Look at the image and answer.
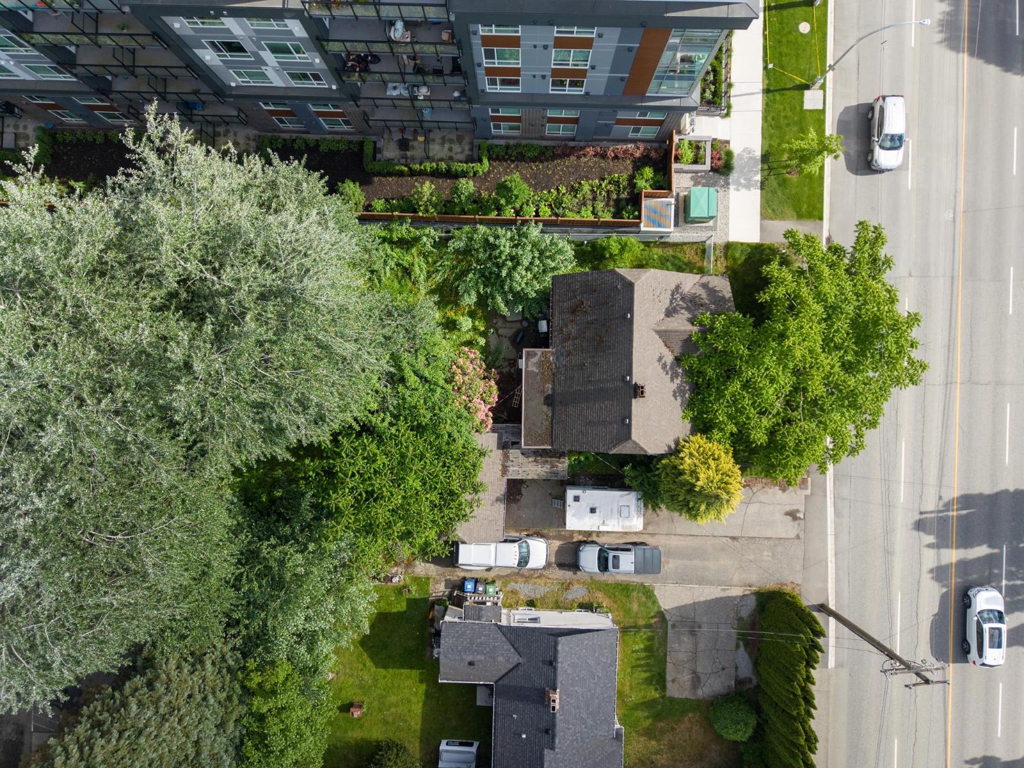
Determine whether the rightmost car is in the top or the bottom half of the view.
bottom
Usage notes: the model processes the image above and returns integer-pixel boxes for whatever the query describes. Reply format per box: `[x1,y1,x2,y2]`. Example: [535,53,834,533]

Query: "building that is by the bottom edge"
[436,590,627,768]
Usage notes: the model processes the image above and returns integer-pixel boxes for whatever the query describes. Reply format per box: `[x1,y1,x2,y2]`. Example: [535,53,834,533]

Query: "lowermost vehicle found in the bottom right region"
[960,586,1003,664]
